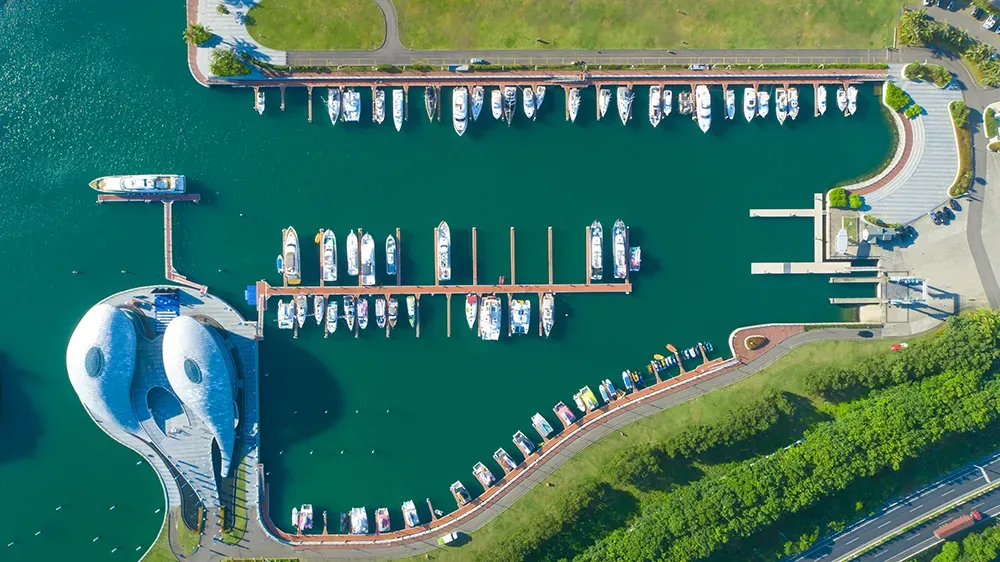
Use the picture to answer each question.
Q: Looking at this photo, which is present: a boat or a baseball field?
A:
boat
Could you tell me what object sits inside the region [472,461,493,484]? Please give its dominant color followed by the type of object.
white boat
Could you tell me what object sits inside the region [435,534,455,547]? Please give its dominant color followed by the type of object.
white vehicle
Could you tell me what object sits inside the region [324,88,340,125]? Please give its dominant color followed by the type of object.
white boat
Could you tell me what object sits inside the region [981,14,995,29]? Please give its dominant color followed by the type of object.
white vehicle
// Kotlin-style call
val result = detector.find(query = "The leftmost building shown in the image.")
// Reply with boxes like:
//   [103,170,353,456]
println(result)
[65,303,153,444]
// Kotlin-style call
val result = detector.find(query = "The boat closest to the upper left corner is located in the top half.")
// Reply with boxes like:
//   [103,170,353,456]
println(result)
[87,175,188,194]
